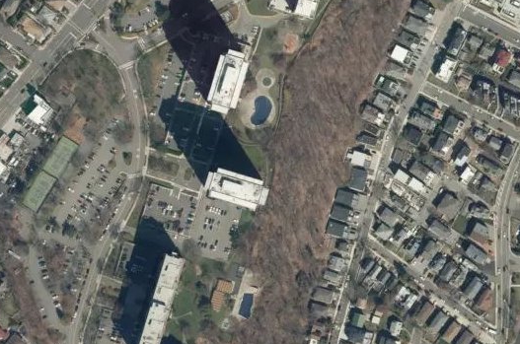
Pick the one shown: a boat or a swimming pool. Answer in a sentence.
Looking from above, you can make out a swimming pool.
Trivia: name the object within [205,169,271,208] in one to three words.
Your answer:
building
